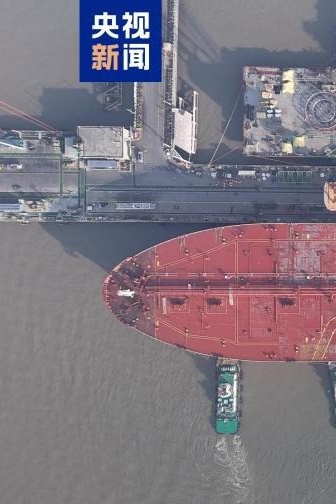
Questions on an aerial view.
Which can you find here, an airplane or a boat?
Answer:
boat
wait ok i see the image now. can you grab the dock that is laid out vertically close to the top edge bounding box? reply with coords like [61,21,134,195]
[131,0,177,150]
